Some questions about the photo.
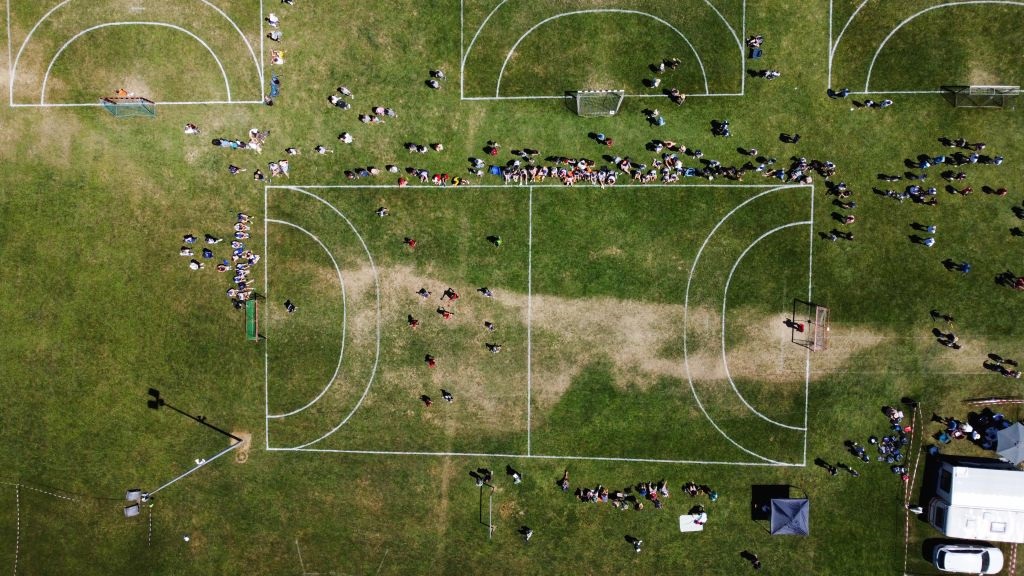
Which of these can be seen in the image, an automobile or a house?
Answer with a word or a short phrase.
automobile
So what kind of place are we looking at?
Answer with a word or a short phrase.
sports ground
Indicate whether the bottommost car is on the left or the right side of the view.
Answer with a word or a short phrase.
right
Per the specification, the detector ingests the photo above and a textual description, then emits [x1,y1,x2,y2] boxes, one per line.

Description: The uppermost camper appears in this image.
[933,461,1024,507]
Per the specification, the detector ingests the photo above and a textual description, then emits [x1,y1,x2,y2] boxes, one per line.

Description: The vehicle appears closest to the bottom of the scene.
[935,540,1003,575]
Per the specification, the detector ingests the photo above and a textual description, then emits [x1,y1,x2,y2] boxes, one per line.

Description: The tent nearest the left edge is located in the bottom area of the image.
[761,491,810,536]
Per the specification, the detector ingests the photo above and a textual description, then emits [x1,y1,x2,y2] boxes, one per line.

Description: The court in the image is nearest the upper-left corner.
[6,0,264,106]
